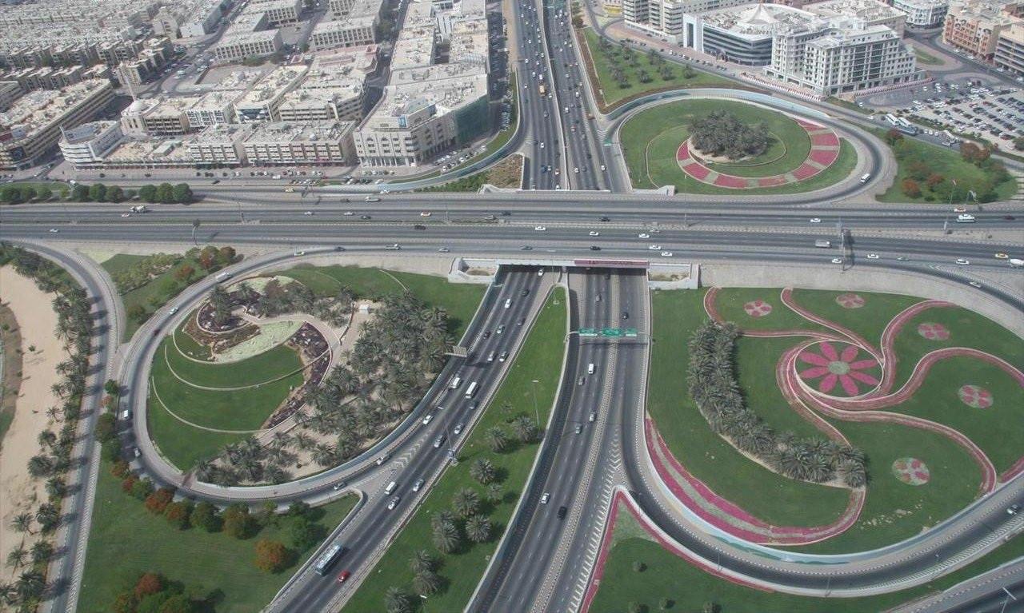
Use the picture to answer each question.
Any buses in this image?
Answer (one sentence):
Yes, the picture does show a bus.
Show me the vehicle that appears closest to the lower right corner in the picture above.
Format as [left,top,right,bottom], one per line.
[1005,503,1021,515]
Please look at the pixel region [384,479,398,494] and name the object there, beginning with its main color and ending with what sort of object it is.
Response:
white vehicle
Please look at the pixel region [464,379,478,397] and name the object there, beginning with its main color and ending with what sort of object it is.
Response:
white vehicle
